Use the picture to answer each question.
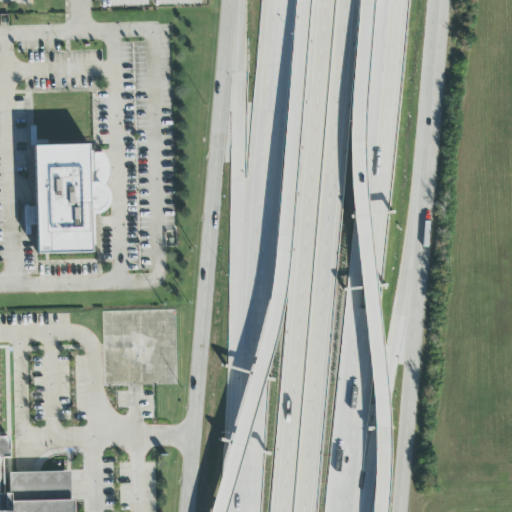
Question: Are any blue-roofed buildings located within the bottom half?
No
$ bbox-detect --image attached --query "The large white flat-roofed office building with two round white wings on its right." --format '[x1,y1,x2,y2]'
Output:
[25,125,113,252]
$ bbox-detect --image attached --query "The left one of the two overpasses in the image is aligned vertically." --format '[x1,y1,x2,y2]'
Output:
[212,0,311,512]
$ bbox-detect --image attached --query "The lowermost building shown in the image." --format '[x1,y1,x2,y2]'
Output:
[0,470,76,512]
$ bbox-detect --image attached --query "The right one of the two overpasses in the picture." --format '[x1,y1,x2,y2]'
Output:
[344,0,396,512]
